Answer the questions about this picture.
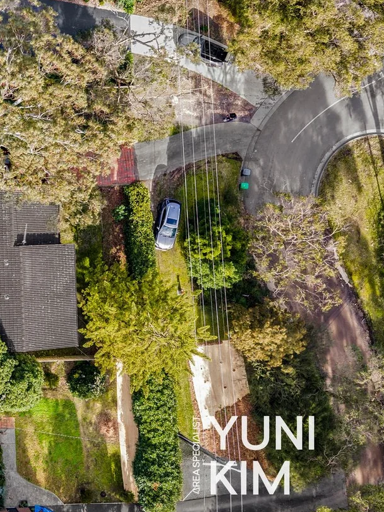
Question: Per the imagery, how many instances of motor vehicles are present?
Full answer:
In total, there are 2 motor vehicles in the scene.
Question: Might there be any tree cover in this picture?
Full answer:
Yes, tree cover can be seen from above here.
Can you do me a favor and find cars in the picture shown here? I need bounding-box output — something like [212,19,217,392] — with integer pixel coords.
[151,198,180,250]
[173,32,228,71]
